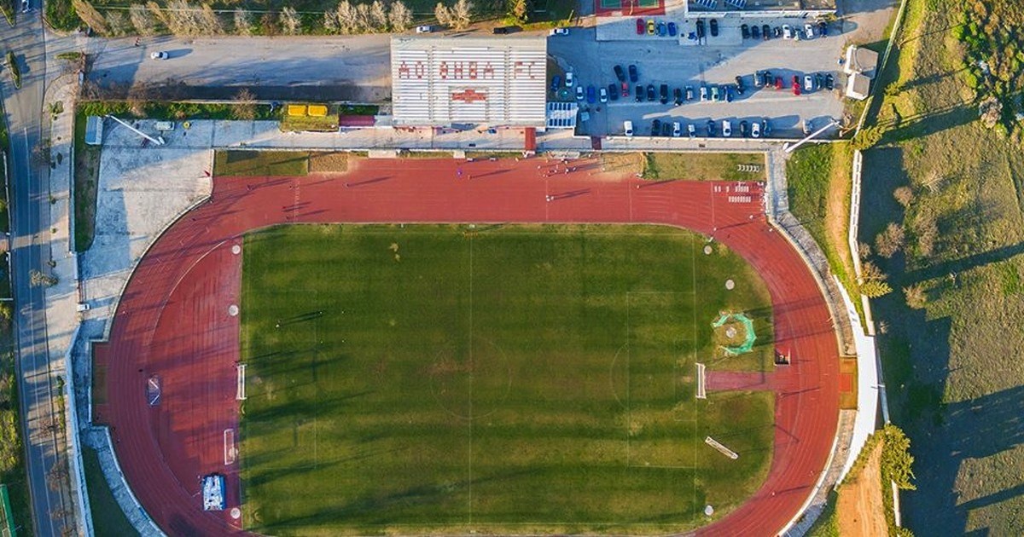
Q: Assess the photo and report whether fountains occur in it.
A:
No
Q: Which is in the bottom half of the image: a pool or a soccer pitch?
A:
soccer pitch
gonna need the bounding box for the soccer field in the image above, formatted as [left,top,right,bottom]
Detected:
[240,224,774,534]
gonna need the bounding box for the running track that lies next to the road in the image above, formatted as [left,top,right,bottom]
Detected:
[91,158,841,537]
